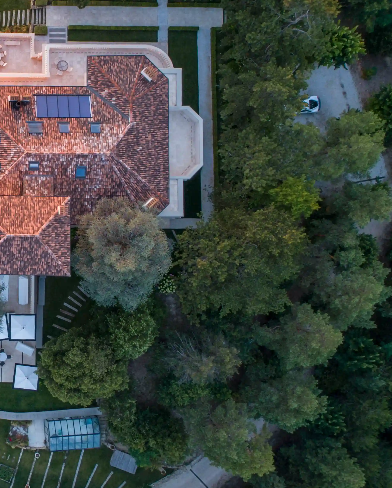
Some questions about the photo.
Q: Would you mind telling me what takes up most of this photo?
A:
trees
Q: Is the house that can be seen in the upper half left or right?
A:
left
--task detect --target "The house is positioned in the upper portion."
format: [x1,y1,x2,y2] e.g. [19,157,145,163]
[0,54,172,227]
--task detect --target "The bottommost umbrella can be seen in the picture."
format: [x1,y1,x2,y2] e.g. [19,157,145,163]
[13,363,40,392]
